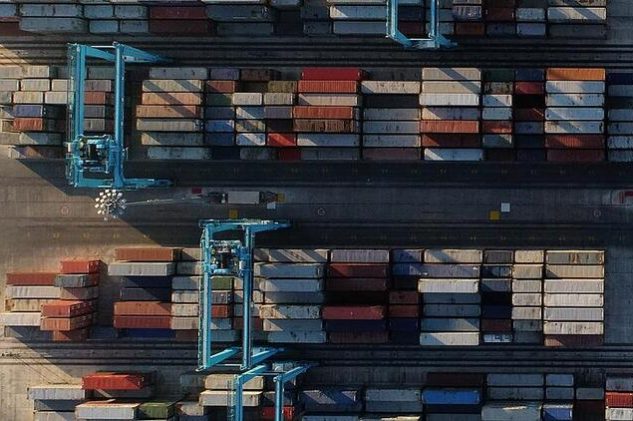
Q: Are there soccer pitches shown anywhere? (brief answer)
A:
No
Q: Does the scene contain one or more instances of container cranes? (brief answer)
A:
Yes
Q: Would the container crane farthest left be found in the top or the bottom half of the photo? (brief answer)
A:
top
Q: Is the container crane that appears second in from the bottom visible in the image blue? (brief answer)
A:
Yes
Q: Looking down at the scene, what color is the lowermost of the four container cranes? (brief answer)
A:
blue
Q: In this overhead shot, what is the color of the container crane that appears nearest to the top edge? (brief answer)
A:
blue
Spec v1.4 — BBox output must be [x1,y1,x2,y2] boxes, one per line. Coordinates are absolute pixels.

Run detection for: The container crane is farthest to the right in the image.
[384,0,462,50]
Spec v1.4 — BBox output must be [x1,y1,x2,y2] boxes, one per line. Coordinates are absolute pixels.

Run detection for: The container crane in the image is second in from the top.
[66,40,177,185]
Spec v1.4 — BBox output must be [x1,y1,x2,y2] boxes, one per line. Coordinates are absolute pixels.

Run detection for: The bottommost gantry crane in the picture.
[227,357,320,421]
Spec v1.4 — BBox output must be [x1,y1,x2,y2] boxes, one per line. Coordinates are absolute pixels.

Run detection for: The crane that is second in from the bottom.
[193,219,291,368]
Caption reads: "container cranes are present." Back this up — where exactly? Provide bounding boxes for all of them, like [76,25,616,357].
[384,0,462,50]
[66,40,177,185]
[227,357,320,421]
[193,219,291,368]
